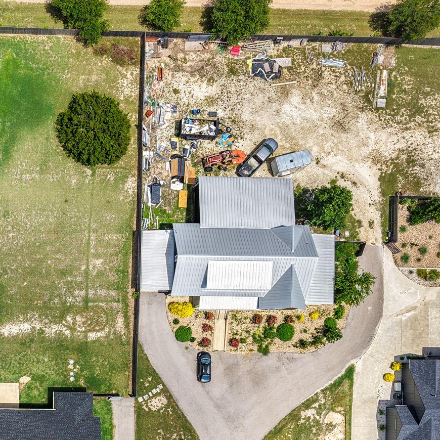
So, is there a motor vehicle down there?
Yes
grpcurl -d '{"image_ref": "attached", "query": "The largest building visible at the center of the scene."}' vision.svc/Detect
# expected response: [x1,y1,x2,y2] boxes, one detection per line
[141,177,337,311]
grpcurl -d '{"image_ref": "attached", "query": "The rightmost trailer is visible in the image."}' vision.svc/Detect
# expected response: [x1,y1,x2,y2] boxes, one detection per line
[271,150,314,176]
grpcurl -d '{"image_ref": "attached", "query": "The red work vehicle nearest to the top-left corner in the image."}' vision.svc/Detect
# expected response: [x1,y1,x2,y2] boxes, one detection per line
[197,152,226,169]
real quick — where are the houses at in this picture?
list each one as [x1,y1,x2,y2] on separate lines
[0,391,102,440]
[141,177,337,311]
[382,355,440,440]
